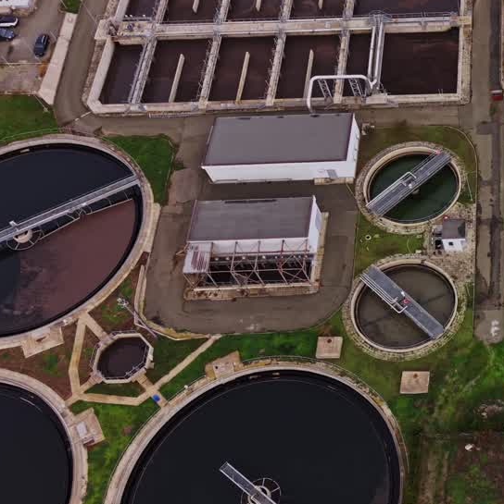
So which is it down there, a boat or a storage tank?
storage tank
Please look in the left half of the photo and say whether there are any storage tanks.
Yes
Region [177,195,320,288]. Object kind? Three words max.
building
